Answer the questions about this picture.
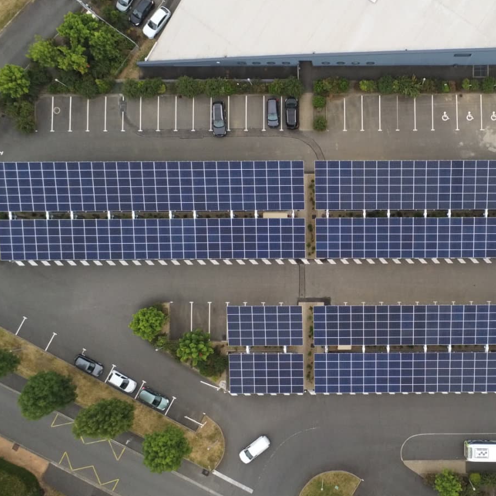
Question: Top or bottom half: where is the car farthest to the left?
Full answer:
You can find the car farthest to the left in the bottom half.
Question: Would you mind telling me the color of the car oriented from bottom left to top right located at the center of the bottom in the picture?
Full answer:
In this view, the car oriented from bottom left to top right located at the center of the bottom is white.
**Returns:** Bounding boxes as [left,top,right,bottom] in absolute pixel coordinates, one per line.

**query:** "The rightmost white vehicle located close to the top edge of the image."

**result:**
[145,5,171,39]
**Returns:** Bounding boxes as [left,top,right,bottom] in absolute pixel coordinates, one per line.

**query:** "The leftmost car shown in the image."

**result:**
[73,353,104,377]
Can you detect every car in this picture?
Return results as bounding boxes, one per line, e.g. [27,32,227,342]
[137,386,171,410]
[211,101,226,136]
[145,5,171,39]
[283,97,299,129]
[106,369,136,392]
[73,353,104,377]
[240,434,271,464]
[266,99,280,128]
[130,0,155,26]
